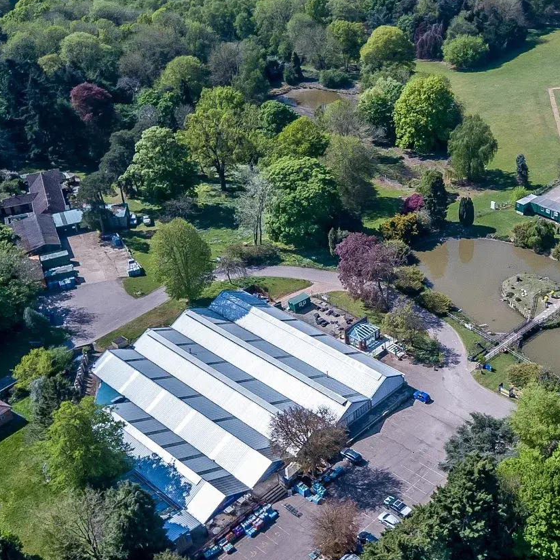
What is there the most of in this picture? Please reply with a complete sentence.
For the most part, this view shows trees.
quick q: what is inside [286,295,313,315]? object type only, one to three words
shed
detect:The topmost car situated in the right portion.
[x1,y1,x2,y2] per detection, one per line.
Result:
[413,388,431,402]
